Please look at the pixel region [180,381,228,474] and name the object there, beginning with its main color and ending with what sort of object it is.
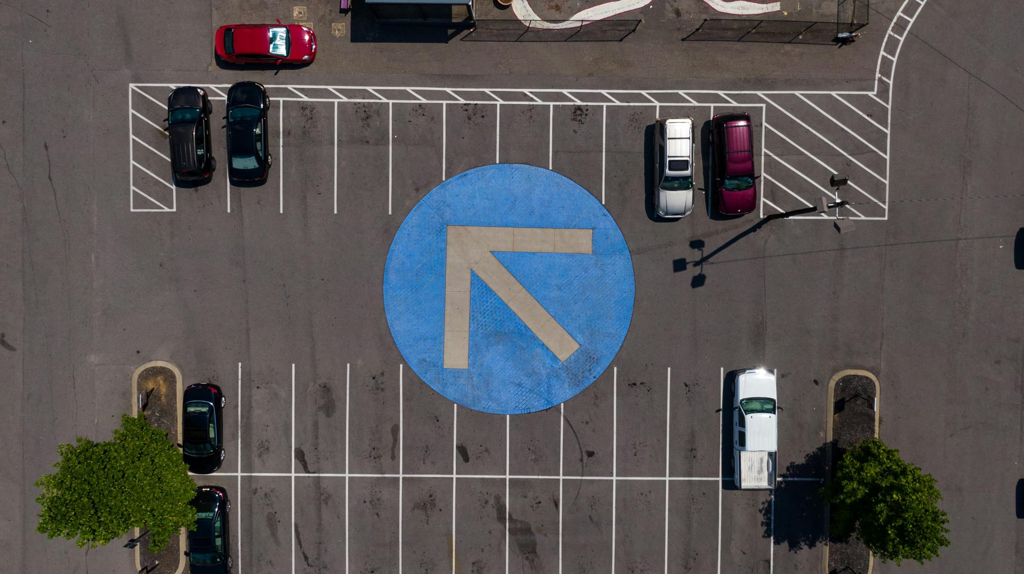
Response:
black car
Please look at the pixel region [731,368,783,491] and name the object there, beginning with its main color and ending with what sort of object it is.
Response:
white truck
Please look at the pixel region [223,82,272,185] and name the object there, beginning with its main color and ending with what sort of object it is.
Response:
black car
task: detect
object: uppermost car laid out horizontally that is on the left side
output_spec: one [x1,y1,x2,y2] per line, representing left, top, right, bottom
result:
[214,19,318,66]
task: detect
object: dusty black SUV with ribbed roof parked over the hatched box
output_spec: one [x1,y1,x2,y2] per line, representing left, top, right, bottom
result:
[165,88,218,183]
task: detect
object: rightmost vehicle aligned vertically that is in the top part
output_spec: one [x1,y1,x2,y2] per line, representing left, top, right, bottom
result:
[710,113,762,215]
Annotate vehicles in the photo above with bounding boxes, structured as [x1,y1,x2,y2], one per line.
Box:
[165,88,218,183]
[731,368,783,491]
[223,82,272,185]
[652,118,699,218]
[710,113,762,215]
[214,19,318,66]
[186,483,235,574]
[180,381,228,474]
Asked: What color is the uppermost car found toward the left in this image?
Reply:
red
